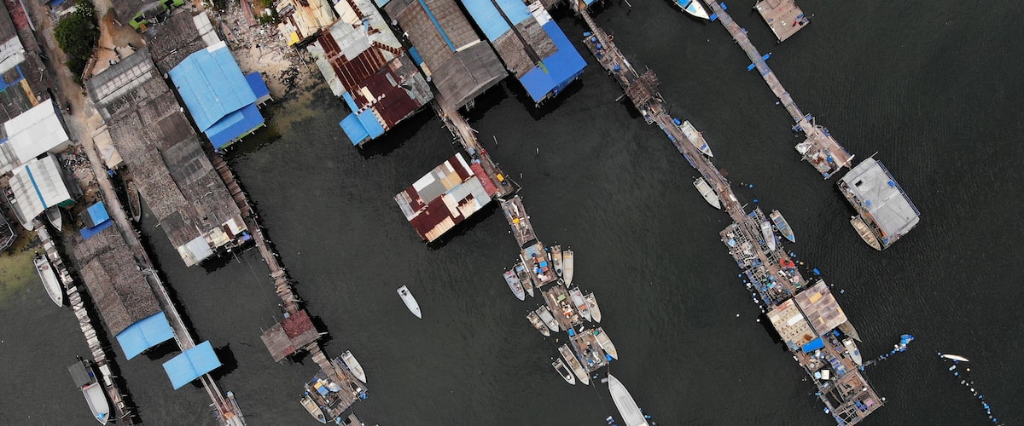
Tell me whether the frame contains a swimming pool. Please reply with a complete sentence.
No, there's no swimming pool here.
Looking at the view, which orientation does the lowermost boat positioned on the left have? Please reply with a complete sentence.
The lowermost boat positioned on the left is oriented at an angle.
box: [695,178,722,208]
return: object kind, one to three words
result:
boat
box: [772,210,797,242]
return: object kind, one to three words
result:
boat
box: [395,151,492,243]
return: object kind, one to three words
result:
shed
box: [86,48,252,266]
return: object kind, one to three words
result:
house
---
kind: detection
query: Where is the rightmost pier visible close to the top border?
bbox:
[707,0,810,134]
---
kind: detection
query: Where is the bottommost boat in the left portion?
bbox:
[300,396,326,425]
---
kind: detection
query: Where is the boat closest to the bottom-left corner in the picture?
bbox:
[69,359,105,425]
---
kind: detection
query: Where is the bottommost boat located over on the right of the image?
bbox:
[610,376,654,426]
